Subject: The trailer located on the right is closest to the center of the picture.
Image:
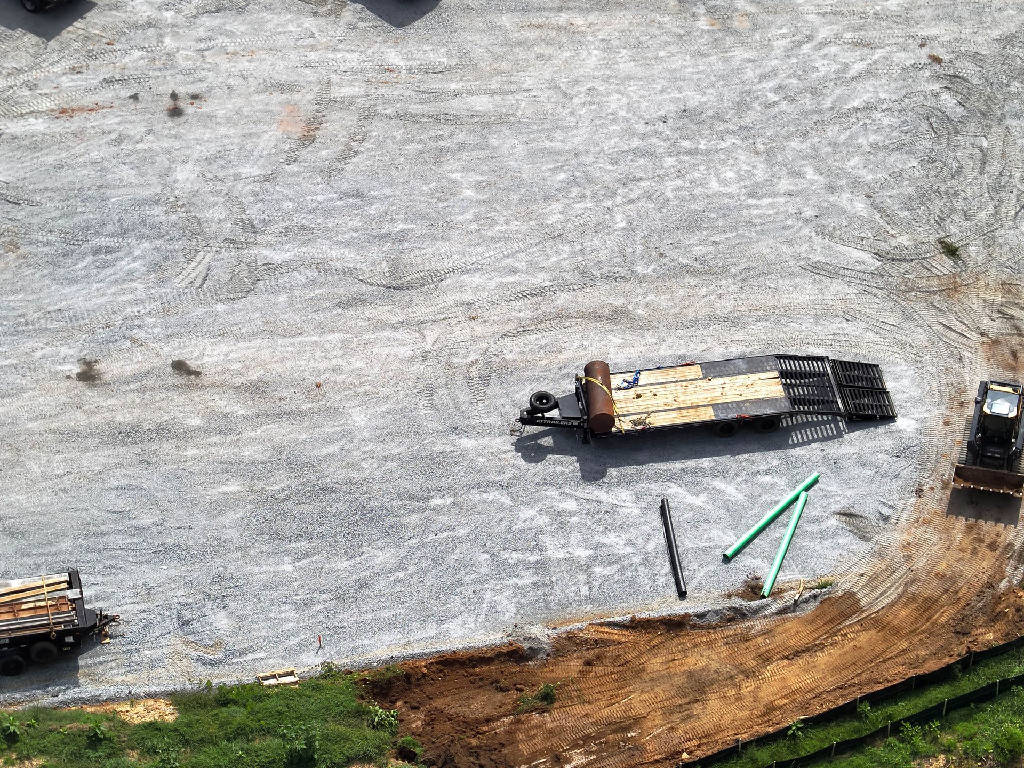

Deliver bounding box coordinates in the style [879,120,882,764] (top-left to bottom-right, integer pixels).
[508,355,899,448]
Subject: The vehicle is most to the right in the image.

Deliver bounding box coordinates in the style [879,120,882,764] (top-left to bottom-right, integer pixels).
[953,379,1024,499]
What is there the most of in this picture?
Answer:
paved ground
